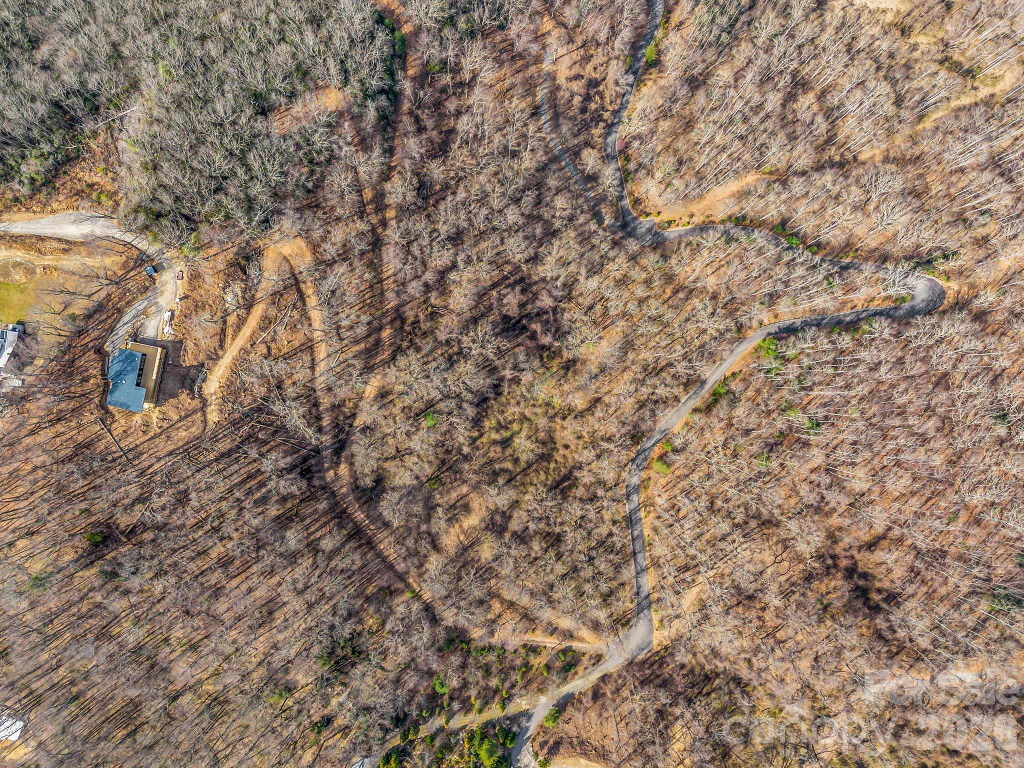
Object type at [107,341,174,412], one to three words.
house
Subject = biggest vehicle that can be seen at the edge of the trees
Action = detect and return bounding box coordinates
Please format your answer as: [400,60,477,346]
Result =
[142,261,163,275]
